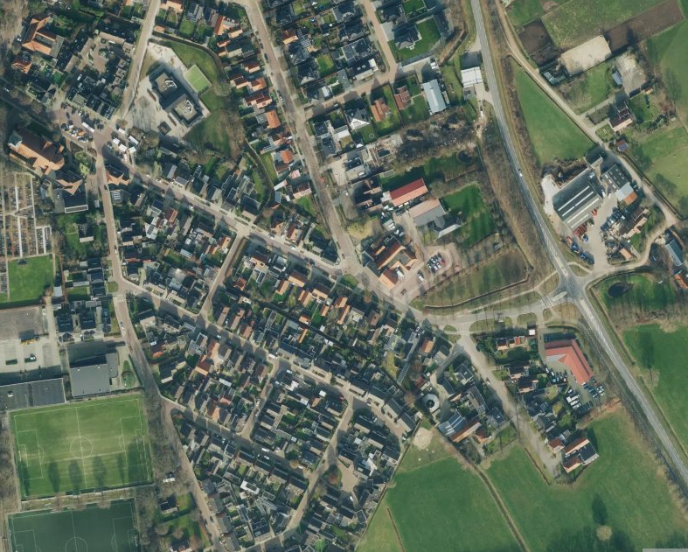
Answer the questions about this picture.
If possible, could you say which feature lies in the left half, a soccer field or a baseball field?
soccer field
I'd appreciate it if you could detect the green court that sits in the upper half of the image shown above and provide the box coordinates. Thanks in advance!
[185,66,211,97]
